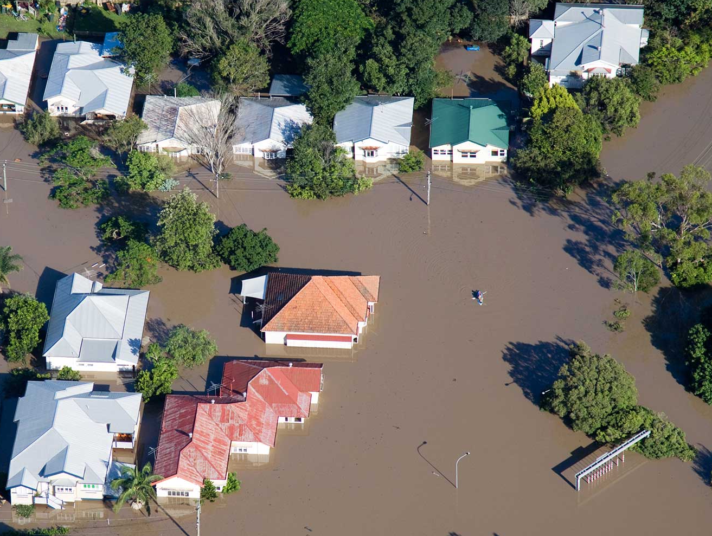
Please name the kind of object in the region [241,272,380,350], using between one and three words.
house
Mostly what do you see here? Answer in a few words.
water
